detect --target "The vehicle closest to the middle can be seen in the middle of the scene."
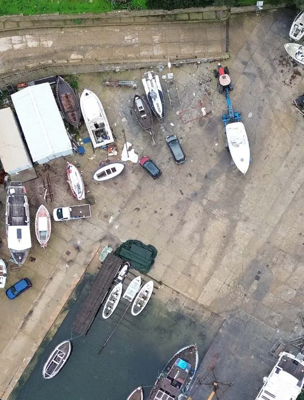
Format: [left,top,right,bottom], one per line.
[137,155,164,181]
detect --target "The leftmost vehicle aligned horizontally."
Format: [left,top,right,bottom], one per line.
[54,203,92,223]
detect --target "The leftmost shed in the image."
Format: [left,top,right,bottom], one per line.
[0,107,36,177]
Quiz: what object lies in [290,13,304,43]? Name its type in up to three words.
boat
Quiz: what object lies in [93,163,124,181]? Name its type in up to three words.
boat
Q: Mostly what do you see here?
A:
paved ground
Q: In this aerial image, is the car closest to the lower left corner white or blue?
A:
blue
